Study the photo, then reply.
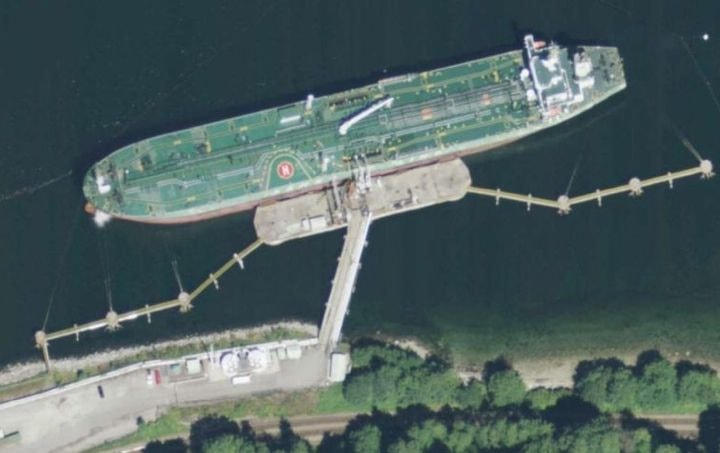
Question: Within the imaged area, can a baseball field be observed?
No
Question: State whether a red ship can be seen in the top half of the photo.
No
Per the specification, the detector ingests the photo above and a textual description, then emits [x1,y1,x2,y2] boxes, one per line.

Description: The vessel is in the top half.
[82,36,626,222]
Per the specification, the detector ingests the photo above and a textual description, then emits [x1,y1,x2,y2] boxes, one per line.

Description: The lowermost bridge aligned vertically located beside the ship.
[319,210,371,343]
